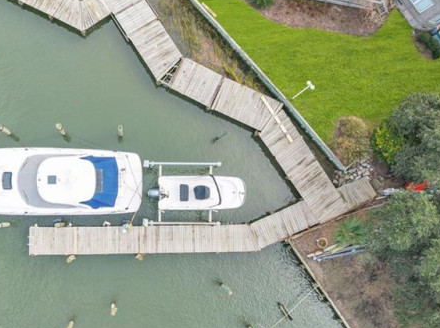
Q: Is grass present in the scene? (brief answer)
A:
Yes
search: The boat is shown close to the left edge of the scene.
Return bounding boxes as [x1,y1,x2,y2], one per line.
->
[0,146,143,216]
